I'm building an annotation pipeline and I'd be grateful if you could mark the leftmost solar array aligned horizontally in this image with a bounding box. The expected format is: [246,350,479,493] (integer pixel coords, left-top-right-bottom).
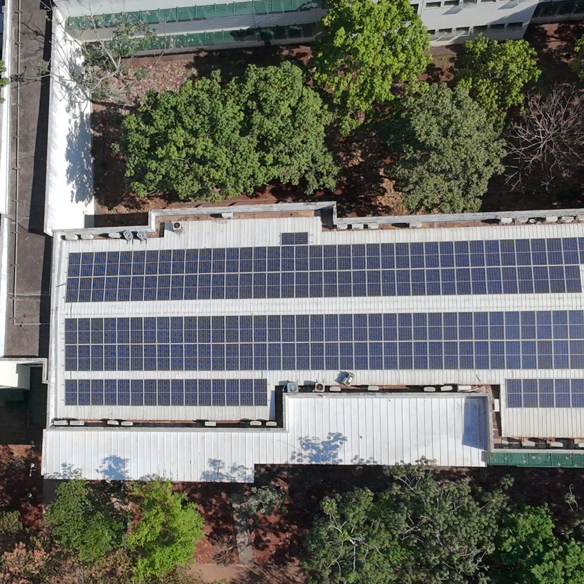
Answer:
[62,380,271,406]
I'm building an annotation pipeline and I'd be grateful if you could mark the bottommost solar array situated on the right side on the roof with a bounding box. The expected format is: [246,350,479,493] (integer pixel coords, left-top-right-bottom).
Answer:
[506,379,584,407]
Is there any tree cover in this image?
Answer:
Yes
